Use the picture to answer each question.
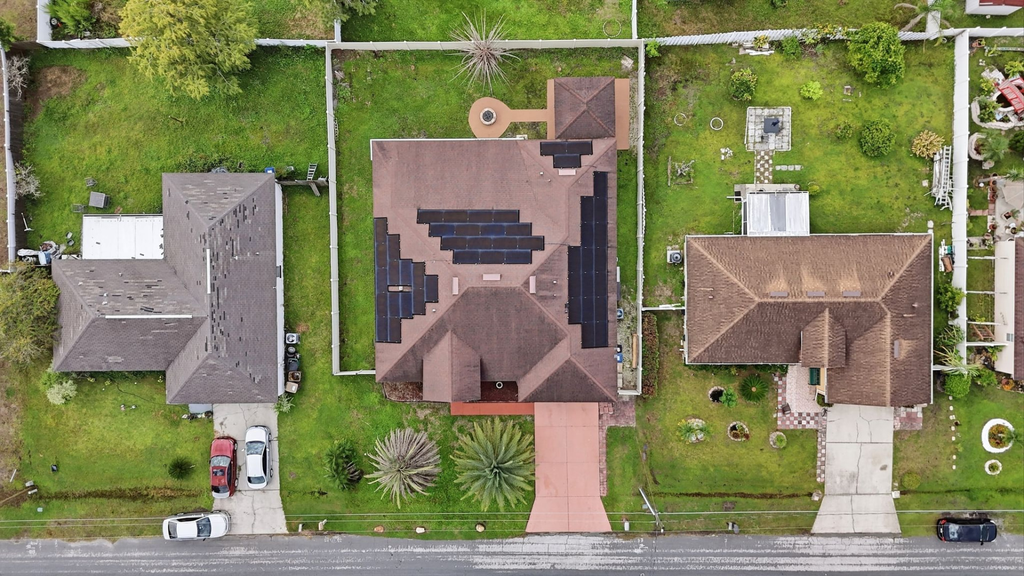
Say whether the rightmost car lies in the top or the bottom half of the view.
bottom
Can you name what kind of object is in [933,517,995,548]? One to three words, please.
car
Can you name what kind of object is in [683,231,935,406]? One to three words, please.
house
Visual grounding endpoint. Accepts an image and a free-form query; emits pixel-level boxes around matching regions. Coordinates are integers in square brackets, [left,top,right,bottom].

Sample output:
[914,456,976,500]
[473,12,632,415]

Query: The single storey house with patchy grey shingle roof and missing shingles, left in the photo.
[51,172,286,405]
